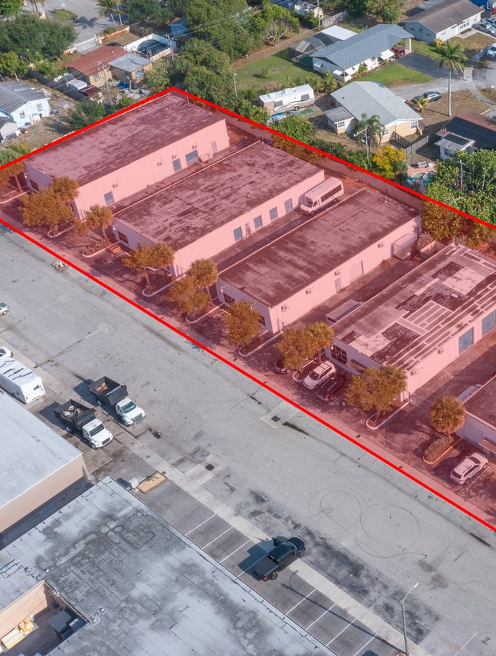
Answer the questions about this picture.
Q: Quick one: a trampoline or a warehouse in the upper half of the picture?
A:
warehouse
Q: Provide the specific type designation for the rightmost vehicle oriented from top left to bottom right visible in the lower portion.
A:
truck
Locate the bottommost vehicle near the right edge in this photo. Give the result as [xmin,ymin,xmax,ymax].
[450,452,490,485]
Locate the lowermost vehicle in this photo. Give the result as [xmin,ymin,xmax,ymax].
[252,537,309,583]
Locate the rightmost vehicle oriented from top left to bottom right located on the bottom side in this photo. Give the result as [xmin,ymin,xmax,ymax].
[83,375,144,427]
